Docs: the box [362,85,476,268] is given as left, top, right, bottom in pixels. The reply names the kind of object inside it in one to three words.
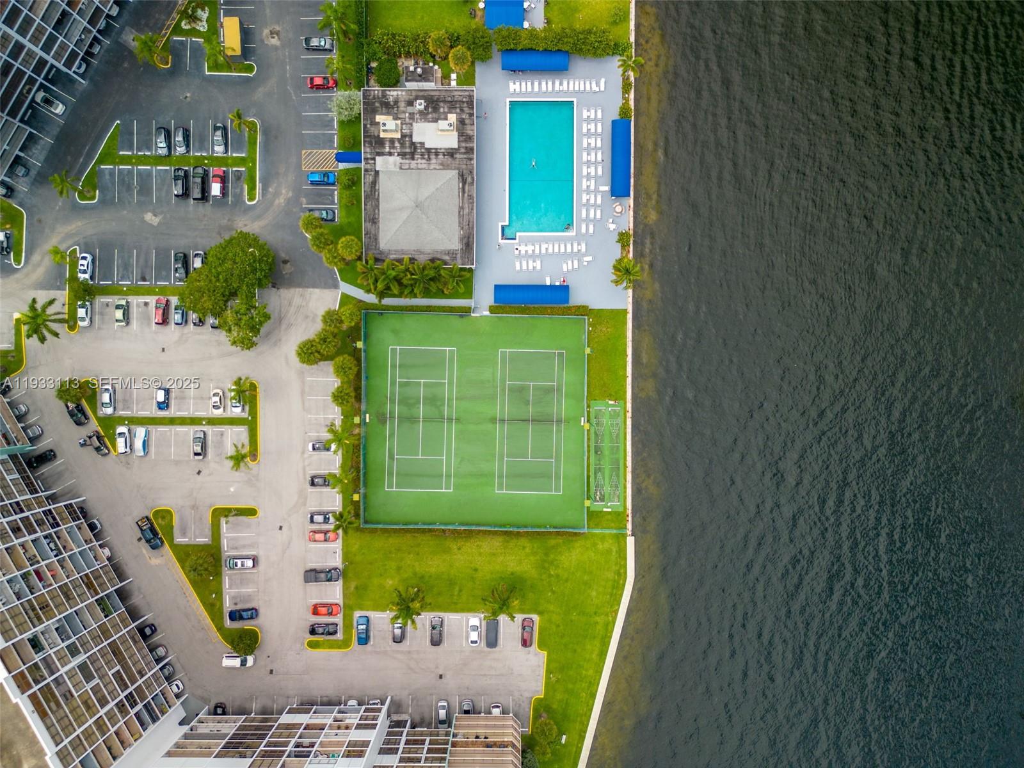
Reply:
building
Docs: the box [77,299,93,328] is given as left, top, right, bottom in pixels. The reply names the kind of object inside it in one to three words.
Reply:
car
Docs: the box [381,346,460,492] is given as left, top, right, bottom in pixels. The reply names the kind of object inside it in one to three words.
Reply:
tennis court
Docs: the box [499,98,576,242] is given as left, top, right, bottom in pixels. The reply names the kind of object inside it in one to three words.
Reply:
swimming pool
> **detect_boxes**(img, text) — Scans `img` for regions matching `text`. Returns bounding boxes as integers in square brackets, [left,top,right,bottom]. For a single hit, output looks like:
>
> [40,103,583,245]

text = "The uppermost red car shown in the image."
[307,75,337,90]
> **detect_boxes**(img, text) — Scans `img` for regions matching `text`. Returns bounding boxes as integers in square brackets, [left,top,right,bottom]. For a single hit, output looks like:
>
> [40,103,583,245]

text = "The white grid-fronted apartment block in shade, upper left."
[0,0,128,184]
